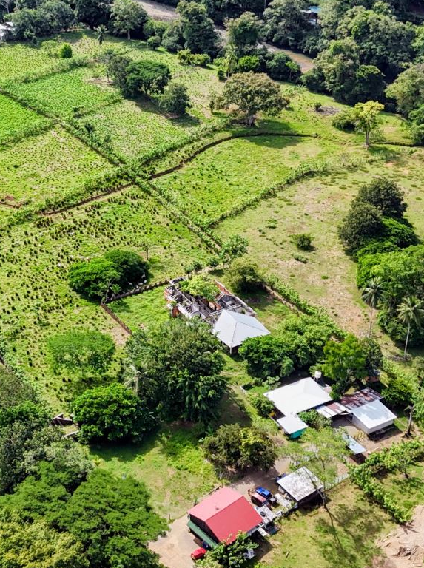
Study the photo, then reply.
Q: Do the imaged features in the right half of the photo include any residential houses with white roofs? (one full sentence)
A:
Yes, a residential house with a white roof appears in the right half of the photo.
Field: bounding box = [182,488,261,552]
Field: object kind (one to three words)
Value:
house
